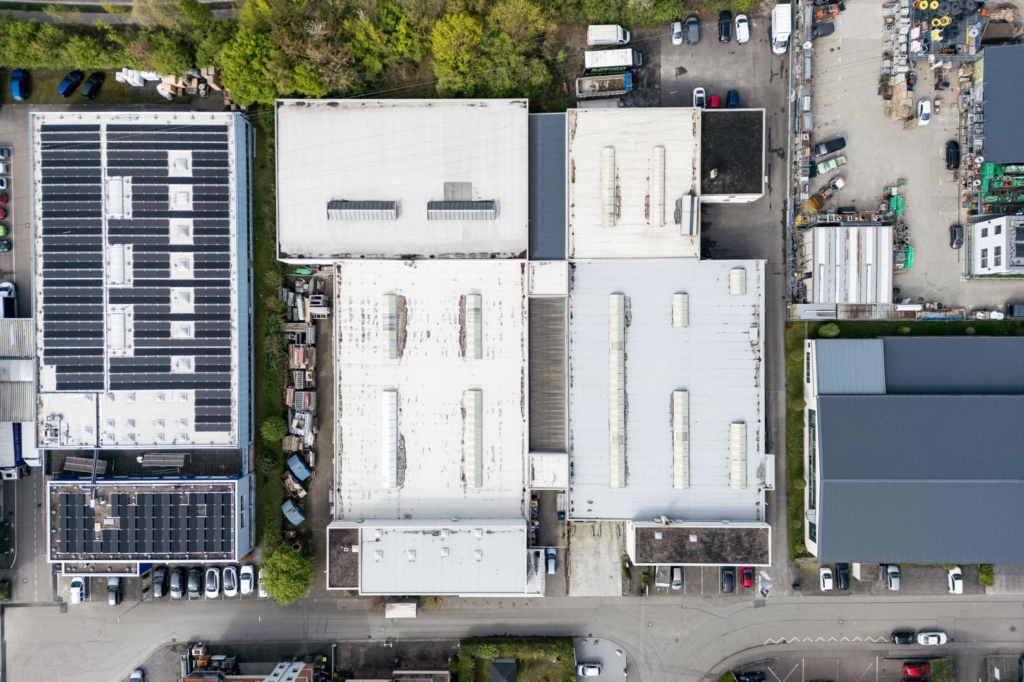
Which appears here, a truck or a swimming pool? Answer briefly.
truck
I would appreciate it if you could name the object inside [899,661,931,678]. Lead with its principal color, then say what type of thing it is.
red car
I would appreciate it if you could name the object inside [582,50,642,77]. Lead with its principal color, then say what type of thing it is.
white truck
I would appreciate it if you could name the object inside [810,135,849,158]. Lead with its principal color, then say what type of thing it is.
black vehicle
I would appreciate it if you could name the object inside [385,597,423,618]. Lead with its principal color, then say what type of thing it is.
white trailer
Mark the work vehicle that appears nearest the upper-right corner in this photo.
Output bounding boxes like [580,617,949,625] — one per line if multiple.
[935,75,954,91]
